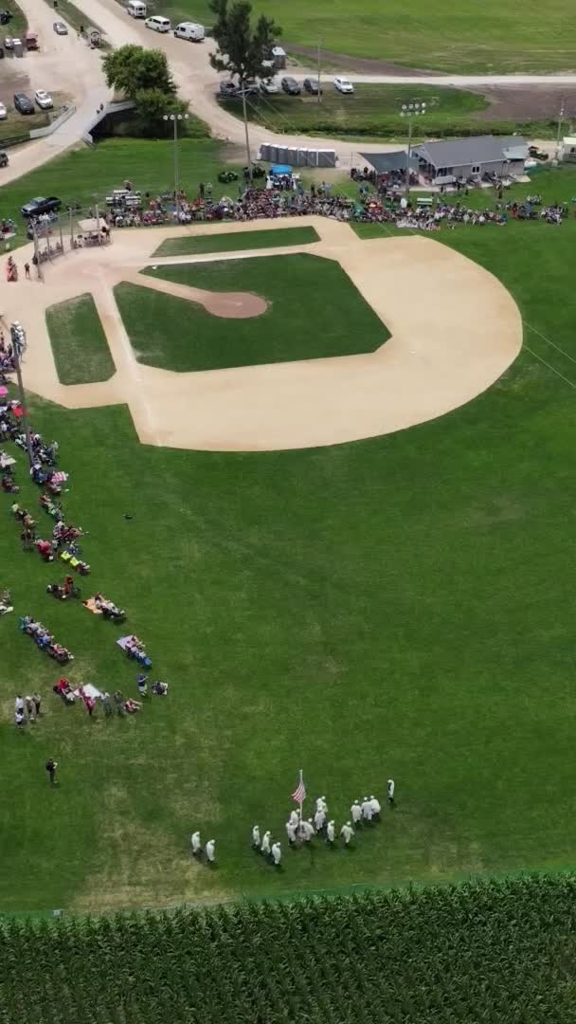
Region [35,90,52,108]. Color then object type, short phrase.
white car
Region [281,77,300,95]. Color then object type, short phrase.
gray car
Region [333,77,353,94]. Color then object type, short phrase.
white car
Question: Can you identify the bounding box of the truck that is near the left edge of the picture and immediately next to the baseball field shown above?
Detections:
[17,195,65,218]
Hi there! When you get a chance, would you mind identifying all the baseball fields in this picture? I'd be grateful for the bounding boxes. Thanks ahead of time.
[0,216,524,450]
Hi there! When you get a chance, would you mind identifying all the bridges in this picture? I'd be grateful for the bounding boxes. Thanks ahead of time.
[30,106,141,149]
